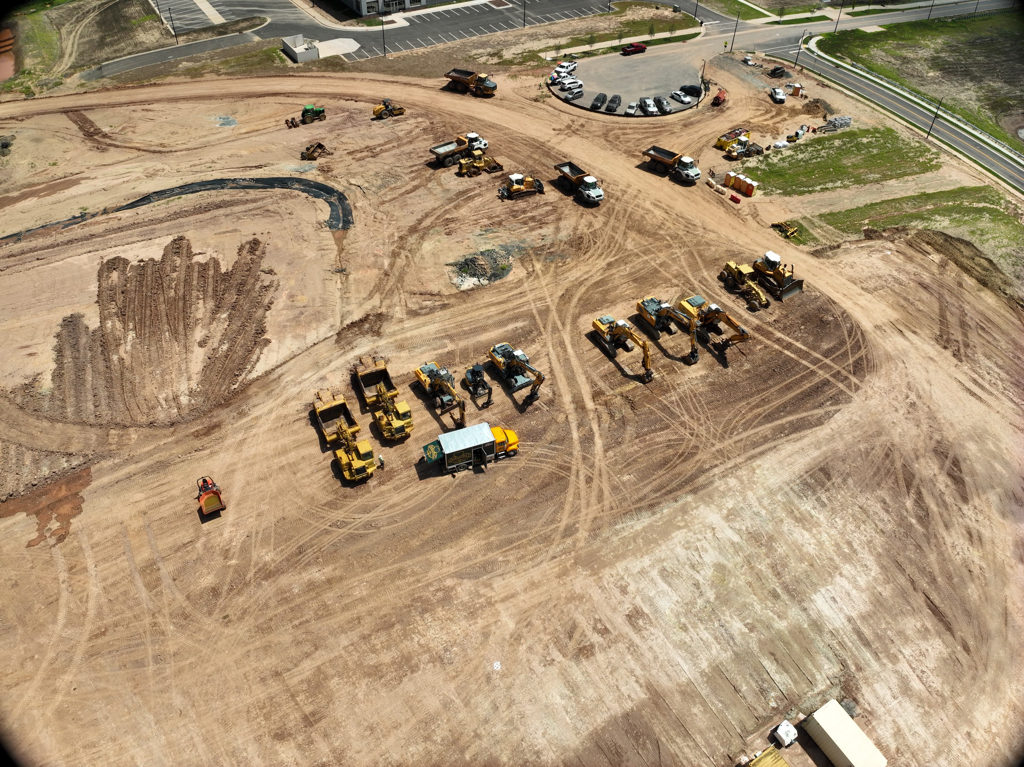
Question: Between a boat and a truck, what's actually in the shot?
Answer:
truck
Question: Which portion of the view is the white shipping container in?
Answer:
bottom right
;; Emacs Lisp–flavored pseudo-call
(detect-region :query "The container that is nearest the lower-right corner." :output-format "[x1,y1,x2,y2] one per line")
[804,697,894,767]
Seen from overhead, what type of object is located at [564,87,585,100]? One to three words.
vehicle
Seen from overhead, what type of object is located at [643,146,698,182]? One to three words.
truck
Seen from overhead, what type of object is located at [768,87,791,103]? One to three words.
vehicle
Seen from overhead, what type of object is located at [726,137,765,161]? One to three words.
work vehicle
